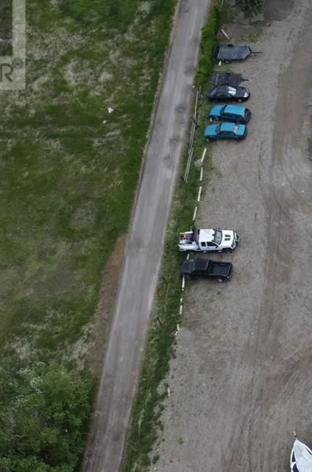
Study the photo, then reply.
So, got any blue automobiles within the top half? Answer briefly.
Yes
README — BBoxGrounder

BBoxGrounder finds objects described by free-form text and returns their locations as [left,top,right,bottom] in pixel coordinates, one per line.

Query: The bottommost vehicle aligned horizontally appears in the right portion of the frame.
[178,258,237,283]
